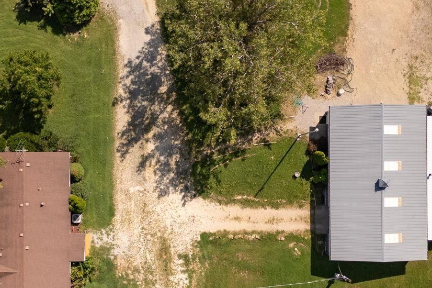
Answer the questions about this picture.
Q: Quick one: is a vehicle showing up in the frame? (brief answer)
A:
No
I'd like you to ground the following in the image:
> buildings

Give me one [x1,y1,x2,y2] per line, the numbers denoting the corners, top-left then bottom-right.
[0,152,87,288]
[325,102,429,262]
